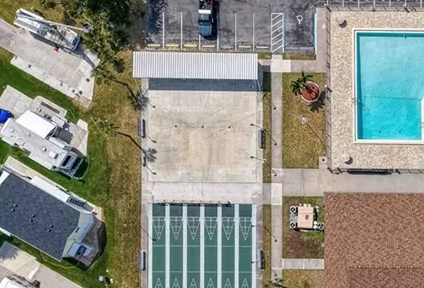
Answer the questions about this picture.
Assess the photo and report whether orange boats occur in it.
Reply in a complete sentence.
No, there's no orange boat here.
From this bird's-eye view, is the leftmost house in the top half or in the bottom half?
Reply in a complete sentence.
The bottom half of the photo is where the leftmost house is.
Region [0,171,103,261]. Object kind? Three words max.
house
